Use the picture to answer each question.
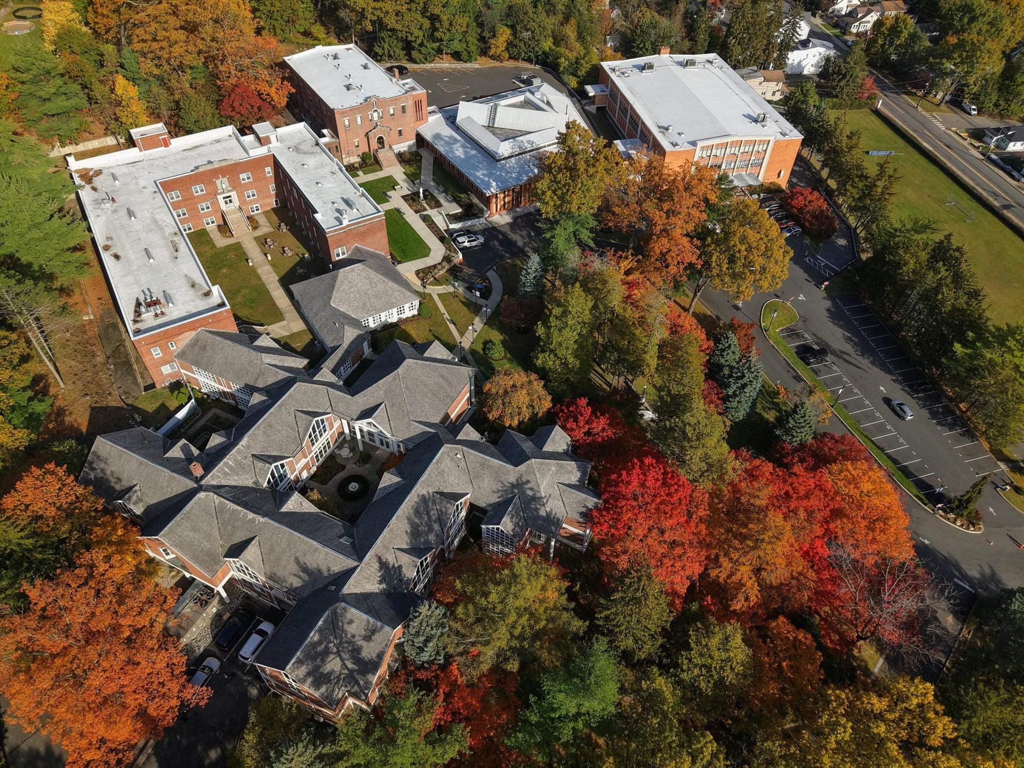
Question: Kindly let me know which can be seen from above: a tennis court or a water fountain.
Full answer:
I can see a water fountain in this picture.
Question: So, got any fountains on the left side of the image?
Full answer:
Yes, you'll find a fountain on the left side of the image.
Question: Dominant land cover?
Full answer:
The bulk of the photo consists of trees.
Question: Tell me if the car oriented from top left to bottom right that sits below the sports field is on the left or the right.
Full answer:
You can find the car oriented from top left to bottom right that sits below the sports field on the right side of the picture.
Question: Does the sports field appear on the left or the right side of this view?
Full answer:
The sports field sits on the right side.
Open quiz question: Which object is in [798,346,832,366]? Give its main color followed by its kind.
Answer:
black vehicle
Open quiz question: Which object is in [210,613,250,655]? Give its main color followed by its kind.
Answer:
black car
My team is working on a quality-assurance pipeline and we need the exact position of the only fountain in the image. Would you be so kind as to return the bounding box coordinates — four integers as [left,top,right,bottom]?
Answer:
[337,472,369,499]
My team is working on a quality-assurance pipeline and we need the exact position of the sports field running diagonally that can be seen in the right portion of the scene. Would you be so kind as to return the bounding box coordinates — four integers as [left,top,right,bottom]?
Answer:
[823,108,1024,366]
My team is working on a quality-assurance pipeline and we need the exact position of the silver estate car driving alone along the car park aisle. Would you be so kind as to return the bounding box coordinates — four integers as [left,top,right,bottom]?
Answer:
[886,398,919,423]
